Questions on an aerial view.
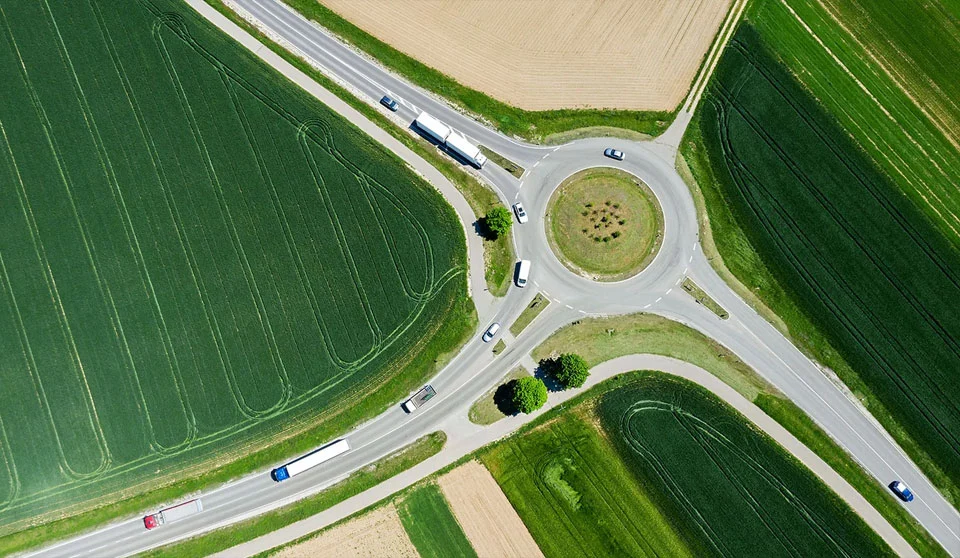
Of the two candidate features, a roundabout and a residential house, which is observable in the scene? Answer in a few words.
roundabout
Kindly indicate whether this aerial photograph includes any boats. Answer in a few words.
No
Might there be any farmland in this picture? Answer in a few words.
Yes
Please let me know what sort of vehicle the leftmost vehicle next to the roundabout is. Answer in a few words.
truck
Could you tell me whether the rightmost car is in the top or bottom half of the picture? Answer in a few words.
bottom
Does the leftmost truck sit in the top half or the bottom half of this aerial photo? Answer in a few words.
bottom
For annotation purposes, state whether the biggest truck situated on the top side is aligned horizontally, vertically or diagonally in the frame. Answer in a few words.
diagonally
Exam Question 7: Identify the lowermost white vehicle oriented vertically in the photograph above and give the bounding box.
[518,261,530,287]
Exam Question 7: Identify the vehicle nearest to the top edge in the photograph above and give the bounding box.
[382,96,399,112]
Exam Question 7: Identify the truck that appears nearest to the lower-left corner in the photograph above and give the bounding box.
[143,497,206,529]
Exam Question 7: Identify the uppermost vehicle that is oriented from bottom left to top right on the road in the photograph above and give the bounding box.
[483,323,500,342]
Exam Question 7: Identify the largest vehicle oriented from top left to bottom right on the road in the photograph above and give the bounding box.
[416,111,488,170]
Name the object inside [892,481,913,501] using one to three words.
car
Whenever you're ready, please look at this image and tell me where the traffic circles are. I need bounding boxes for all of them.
[501,136,698,316]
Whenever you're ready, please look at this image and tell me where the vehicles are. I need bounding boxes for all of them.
[483,323,500,342]
[416,111,488,170]
[404,385,437,414]
[276,436,352,480]
[143,497,206,529]
[514,203,528,223]
[382,96,399,112]
[518,261,530,287]
[892,481,913,501]
[604,148,625,159]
